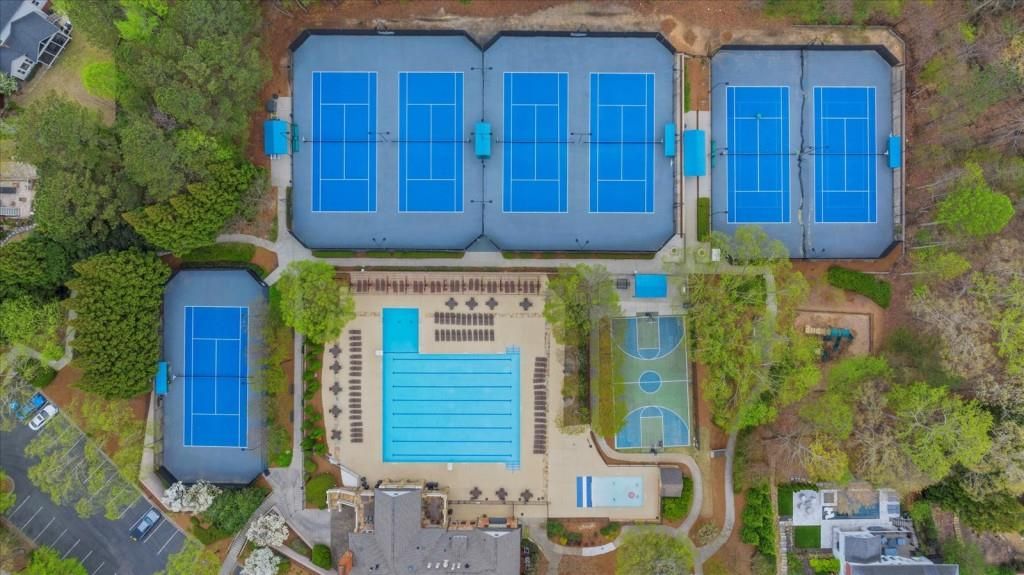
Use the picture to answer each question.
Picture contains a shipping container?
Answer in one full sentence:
No, the photo shows no shipping container.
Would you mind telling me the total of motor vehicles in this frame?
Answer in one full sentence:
Altogether the scene contains 3 motor vehicles.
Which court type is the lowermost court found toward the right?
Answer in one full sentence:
I'd identify the lowermost court found toward the right as a basketball court.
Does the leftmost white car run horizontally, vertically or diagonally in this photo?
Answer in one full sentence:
In this picture, the leftmost white car lies diagonally.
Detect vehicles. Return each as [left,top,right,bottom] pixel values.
[13,389,47,419]
[28,403,59,430]
[132,511,162,540]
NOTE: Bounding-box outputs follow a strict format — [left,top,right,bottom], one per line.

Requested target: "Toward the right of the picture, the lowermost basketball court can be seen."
[609,315,691,452]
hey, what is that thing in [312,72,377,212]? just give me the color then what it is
blue tennis court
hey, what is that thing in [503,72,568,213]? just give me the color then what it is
blue tennis court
